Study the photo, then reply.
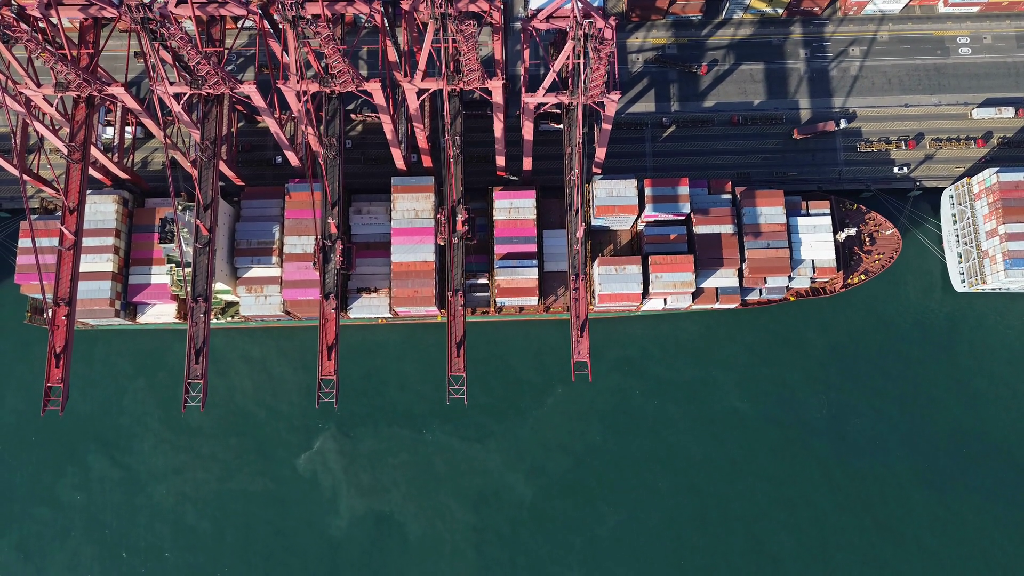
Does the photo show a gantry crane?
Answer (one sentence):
Yes, there's a gantry crane down there.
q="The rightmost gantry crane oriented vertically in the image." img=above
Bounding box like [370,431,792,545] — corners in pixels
[517,0,623,381]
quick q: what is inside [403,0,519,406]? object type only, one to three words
container crane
